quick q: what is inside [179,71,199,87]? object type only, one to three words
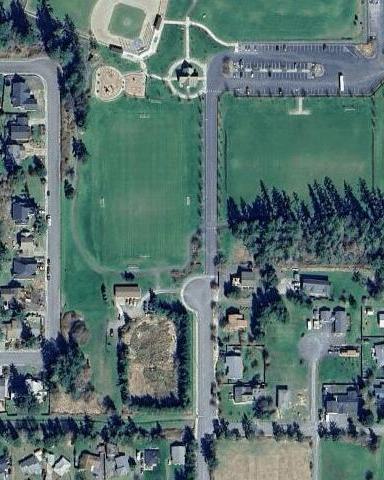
building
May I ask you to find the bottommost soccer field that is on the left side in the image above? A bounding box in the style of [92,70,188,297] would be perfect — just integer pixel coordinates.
[74,100,198,265]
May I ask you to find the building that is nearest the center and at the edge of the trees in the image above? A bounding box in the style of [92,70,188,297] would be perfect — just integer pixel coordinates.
[233,269,256,287]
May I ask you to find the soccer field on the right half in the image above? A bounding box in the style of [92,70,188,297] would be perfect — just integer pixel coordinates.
[227,98,372,210]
